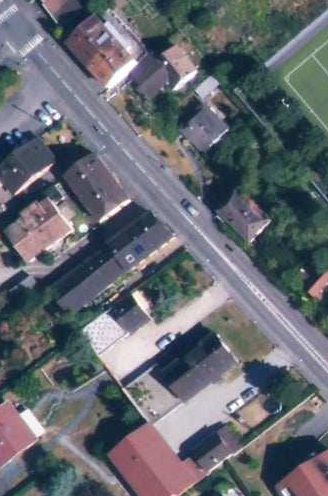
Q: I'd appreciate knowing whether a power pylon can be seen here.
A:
No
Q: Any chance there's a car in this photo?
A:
Yes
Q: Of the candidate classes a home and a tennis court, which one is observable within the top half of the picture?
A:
home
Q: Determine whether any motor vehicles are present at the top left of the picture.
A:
Yes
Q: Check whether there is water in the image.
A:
No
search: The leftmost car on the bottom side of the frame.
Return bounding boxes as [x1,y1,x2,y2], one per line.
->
[157,333,174,348]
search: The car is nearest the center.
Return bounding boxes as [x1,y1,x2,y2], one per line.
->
[181,199,198,215]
